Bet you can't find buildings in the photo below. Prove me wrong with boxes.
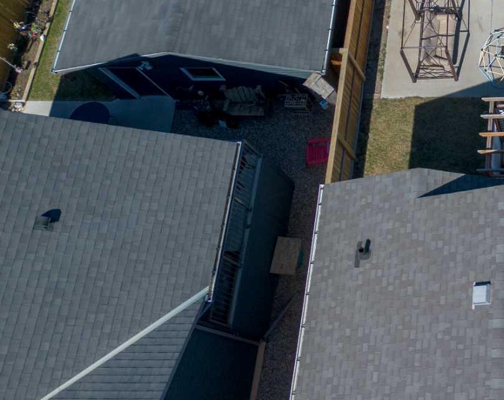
[291,167,504,400]
[0,110,289,400]
[52,0,350,103]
